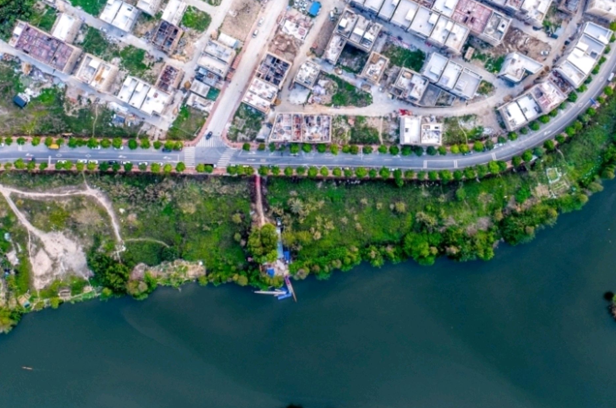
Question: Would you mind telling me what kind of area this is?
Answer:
residential area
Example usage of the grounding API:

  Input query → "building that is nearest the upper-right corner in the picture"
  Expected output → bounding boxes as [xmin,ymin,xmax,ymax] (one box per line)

[583,0,616,20]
